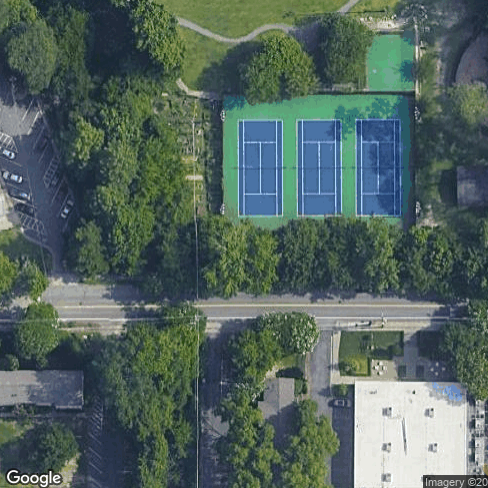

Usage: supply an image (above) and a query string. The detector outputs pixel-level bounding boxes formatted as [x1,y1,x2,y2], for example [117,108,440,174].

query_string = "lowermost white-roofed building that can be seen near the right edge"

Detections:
[354,381,467,488]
